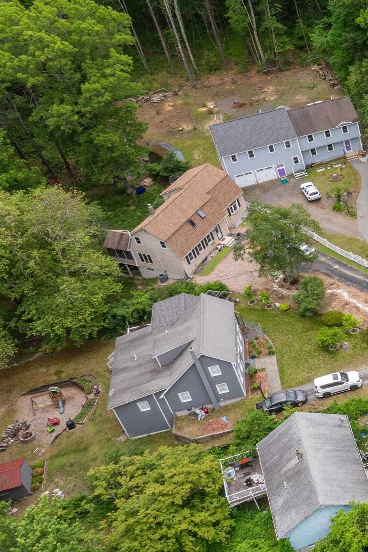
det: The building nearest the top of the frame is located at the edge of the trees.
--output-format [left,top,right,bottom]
[209,92,364,187]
